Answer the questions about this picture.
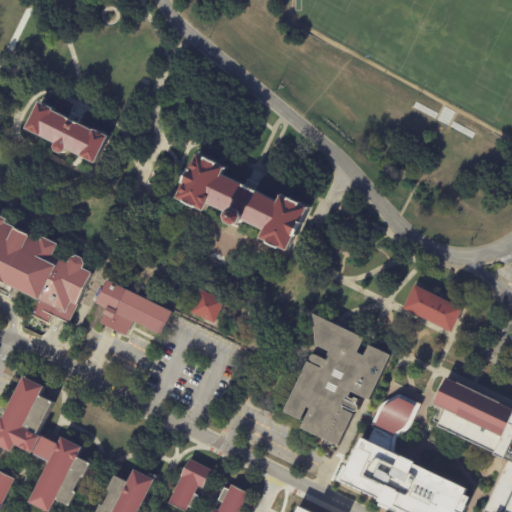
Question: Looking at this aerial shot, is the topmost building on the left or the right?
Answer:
left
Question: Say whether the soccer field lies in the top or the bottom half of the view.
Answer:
top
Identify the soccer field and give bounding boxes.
[298,0,512,128]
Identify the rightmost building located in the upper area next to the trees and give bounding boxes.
[178,154,307,250]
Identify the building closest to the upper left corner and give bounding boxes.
[20,100,106,163]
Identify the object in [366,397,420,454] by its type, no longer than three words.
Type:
building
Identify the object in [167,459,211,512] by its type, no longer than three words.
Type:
house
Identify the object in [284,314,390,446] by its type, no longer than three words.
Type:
building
